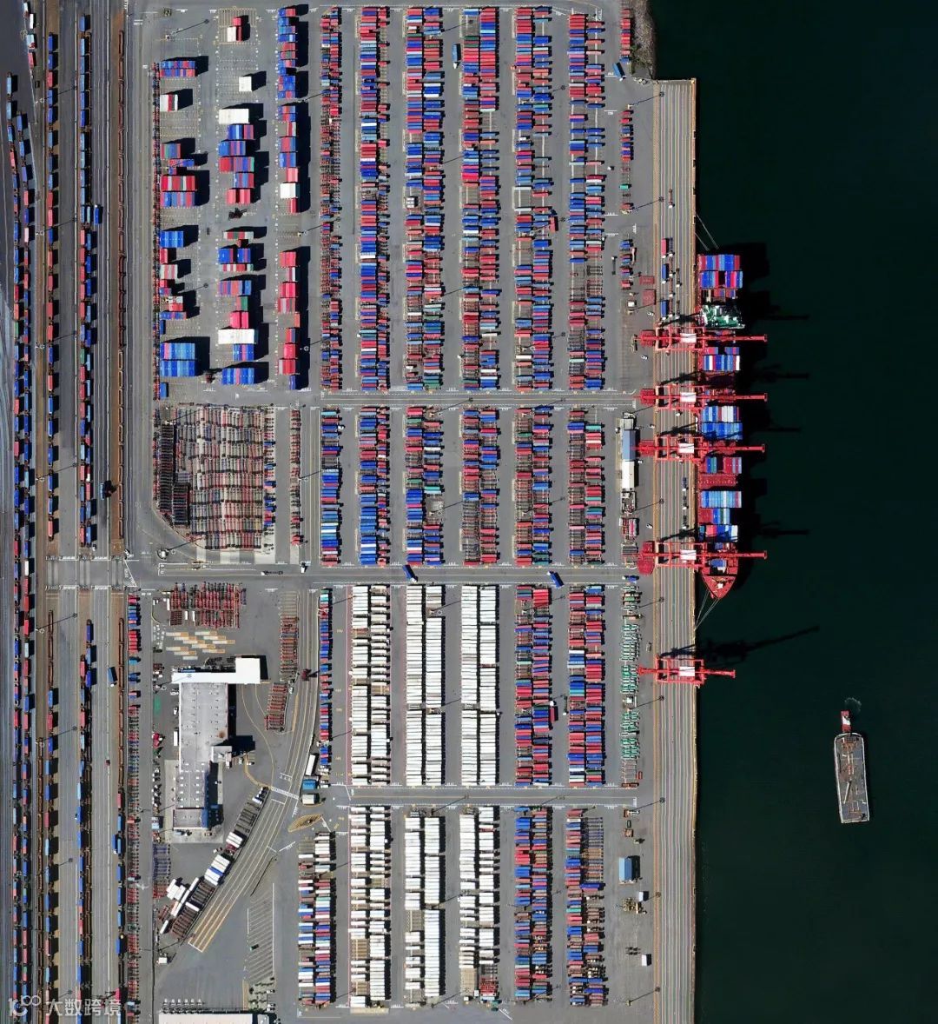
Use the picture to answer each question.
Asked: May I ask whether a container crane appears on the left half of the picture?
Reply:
No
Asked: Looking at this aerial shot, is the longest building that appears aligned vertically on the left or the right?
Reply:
left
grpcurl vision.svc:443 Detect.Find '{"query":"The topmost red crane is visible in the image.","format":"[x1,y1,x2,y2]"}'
[639,322,768,355]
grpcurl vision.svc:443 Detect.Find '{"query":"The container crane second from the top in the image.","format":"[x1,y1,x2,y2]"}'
[639,381,768,414]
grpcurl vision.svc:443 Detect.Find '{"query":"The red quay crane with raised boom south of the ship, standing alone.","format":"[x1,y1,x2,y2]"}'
[639,654,739,687]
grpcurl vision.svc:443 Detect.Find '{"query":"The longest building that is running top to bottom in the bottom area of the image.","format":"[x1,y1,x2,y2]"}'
[172,658,261,827]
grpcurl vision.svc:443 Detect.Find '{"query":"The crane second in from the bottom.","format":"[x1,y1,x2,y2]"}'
[639,539,768,571]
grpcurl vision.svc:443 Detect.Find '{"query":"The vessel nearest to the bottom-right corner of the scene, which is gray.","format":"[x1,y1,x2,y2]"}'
[835,733,869,823]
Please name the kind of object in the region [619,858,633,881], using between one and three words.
shed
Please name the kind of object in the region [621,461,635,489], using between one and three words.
building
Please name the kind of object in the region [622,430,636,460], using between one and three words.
building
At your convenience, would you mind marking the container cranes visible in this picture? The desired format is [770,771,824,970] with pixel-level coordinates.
[639,381,768,414]
[639,654,739,687]
[639,539,768,571]
[639,432,766,465]
[639,322,768,355]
